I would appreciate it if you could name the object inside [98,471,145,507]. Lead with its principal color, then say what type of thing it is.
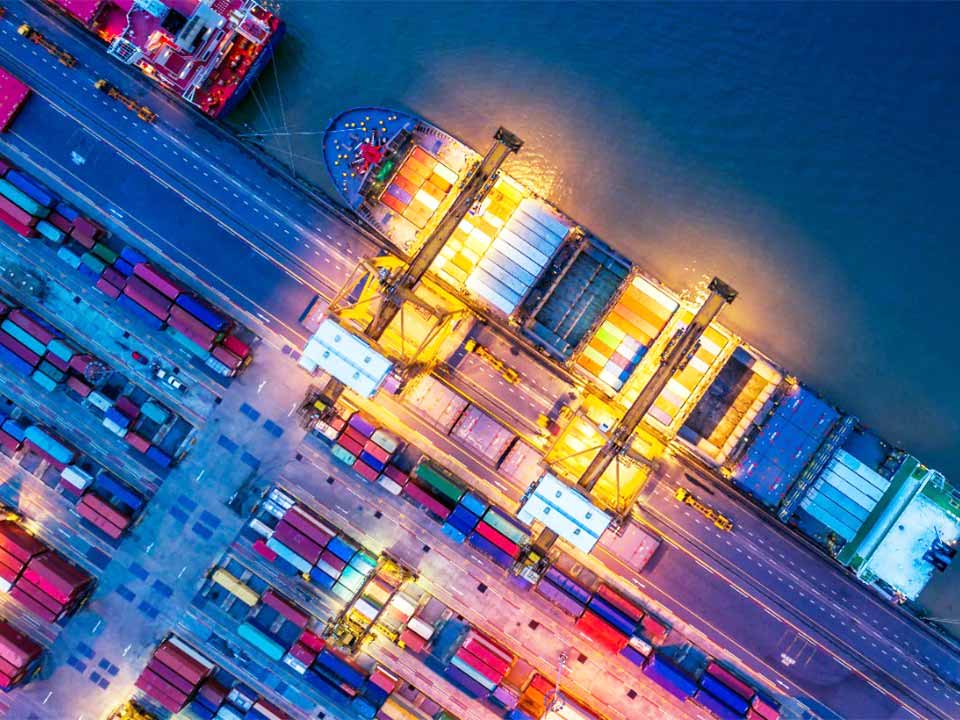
blue shipping container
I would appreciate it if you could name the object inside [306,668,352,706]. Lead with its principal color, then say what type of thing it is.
blue shipping container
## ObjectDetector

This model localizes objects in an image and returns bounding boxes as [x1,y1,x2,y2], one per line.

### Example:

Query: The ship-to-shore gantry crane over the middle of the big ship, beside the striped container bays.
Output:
[499,268,742,591]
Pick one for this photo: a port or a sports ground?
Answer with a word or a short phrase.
port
